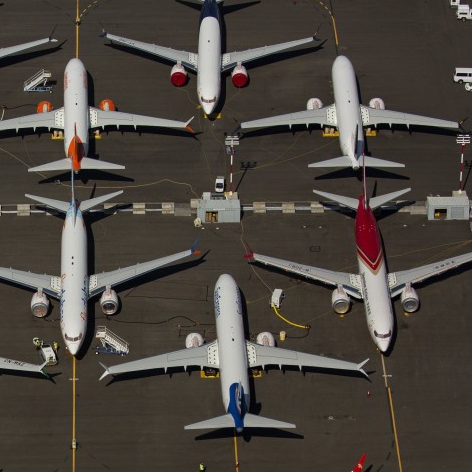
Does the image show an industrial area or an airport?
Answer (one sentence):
The area seen from above is an airport.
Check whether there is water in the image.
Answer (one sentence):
No, there's no water in this view.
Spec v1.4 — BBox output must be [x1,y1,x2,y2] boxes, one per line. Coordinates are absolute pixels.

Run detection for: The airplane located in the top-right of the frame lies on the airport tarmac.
[232,56,469,170]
